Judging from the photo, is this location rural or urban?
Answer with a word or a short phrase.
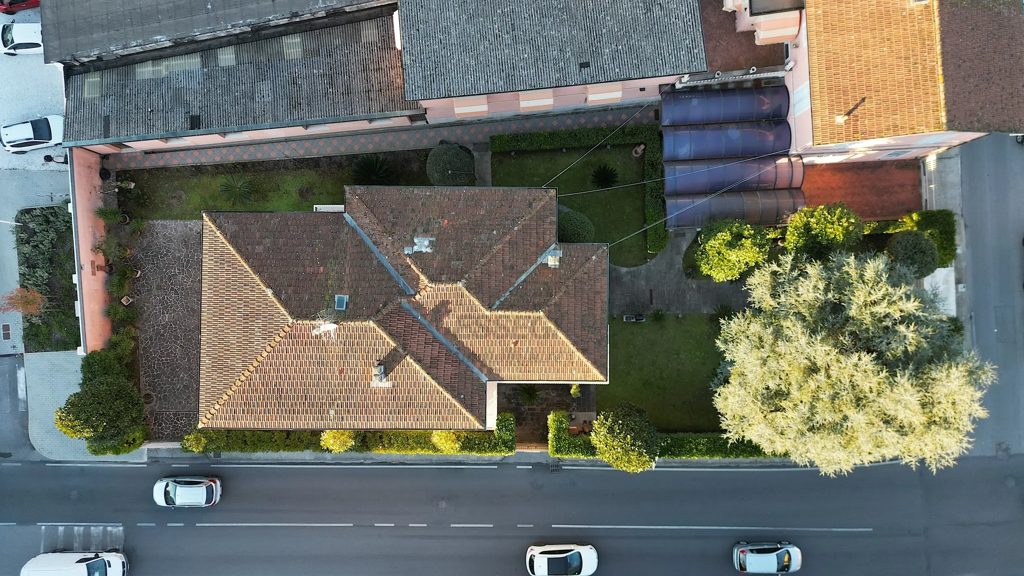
urban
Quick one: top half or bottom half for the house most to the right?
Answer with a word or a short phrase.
top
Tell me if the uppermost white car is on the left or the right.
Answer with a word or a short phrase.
left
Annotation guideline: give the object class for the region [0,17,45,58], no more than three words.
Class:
car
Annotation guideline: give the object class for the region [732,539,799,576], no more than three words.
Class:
car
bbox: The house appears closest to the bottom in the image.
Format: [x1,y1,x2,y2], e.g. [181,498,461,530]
[195,184,612,432]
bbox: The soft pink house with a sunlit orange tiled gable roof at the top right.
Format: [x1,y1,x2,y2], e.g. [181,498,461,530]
[768,0,1024,164]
